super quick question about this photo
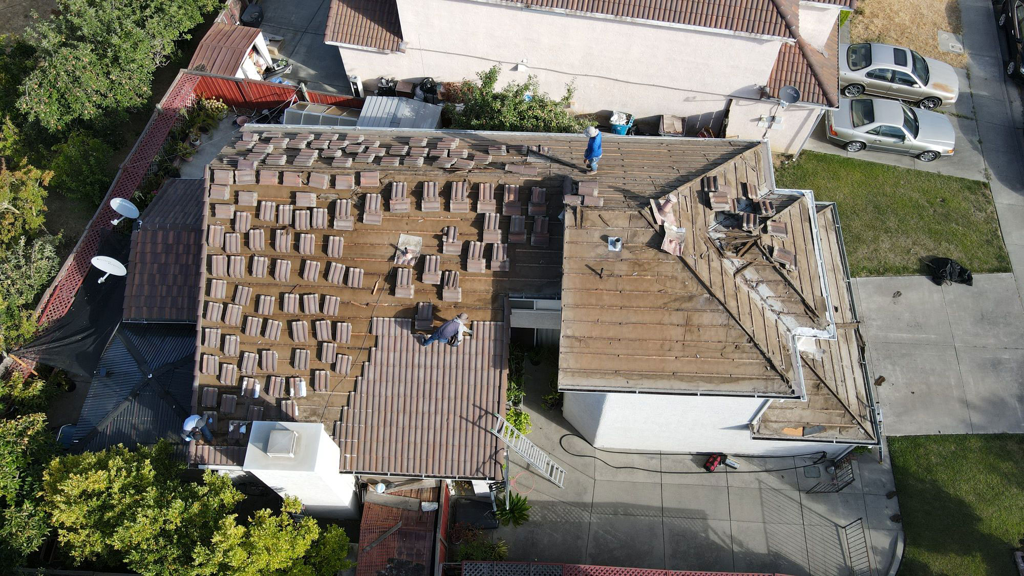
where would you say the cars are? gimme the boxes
[821,95,960,159]
[843,39,966,107]
[1000,0,1024,84]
